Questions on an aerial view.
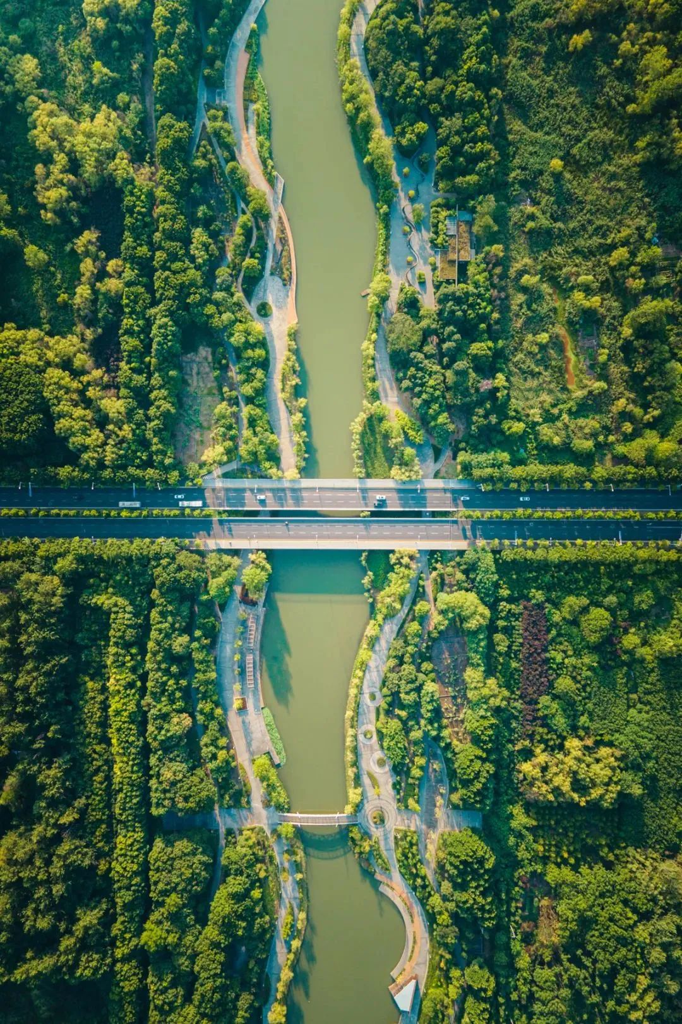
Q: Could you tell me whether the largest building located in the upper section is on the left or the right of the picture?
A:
right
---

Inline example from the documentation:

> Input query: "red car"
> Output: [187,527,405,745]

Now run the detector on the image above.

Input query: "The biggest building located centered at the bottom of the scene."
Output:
[388,974,418,1014]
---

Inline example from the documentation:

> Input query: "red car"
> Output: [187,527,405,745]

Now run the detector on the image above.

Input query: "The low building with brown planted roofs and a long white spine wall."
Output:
[435,206,476,283]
